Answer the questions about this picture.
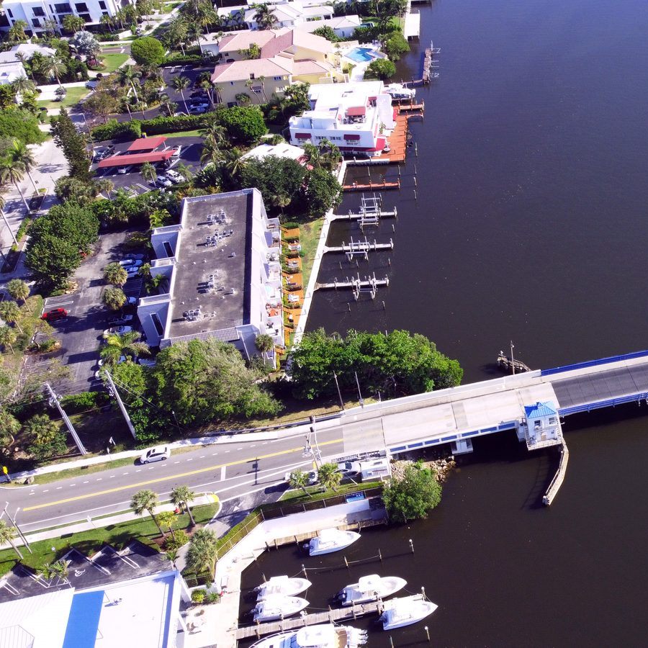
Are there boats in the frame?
Yes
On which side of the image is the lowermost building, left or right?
left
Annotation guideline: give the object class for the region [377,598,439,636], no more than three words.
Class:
boat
